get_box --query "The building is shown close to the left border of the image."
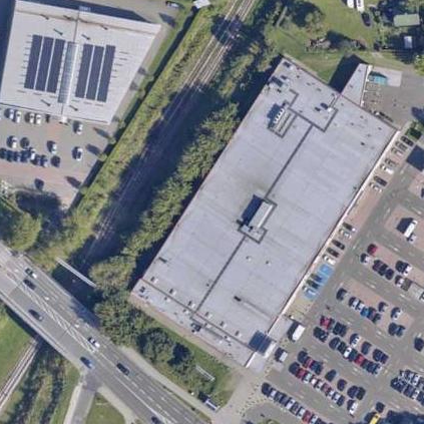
[0,0,160,124]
